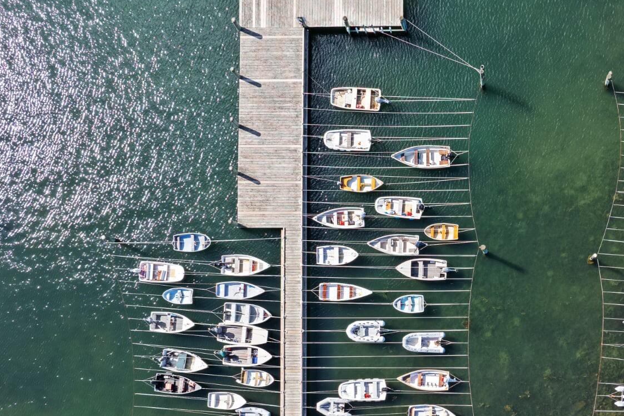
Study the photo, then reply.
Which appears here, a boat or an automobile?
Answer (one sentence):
This aerial view contains a boat.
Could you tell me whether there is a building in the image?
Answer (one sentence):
No, I can see no building in this picture.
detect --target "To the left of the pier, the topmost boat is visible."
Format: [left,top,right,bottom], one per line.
[174,233,211,252]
